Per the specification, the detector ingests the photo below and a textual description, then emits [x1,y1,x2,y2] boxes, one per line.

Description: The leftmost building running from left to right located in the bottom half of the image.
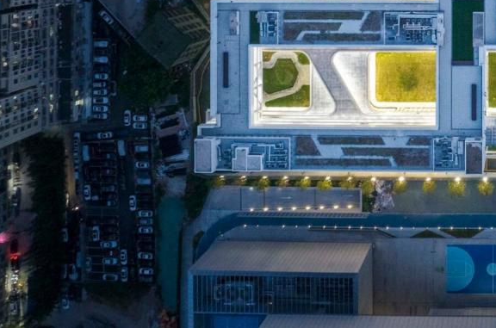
[187,241,371,328]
